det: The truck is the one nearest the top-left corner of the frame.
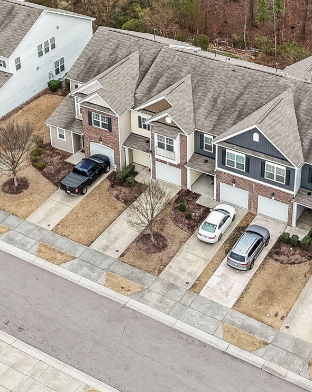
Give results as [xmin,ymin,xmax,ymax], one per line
[60,152,113,194]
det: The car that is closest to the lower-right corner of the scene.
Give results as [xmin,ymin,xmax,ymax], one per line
[227,222,272,268]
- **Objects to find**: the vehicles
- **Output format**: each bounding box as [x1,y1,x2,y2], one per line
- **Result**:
[195,202,237,243]
[227,222,272,268]
[60,152,113,194]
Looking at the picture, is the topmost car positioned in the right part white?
Yes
